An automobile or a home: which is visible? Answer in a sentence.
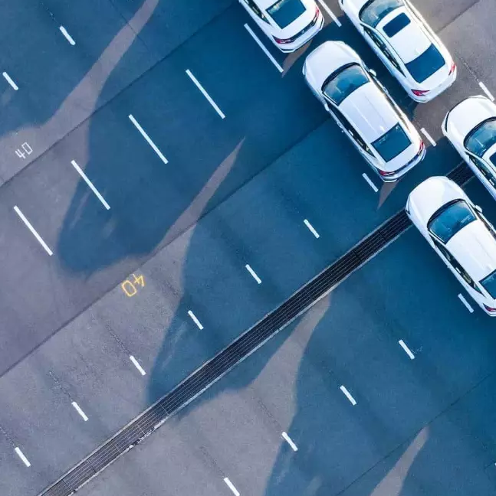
I can see an automobile in this picture.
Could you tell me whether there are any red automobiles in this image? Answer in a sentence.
No, the frame has no red automobile in it.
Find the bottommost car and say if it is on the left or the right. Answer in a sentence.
It is on the right.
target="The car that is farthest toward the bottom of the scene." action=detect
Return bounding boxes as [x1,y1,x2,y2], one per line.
[406,177,496,314]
